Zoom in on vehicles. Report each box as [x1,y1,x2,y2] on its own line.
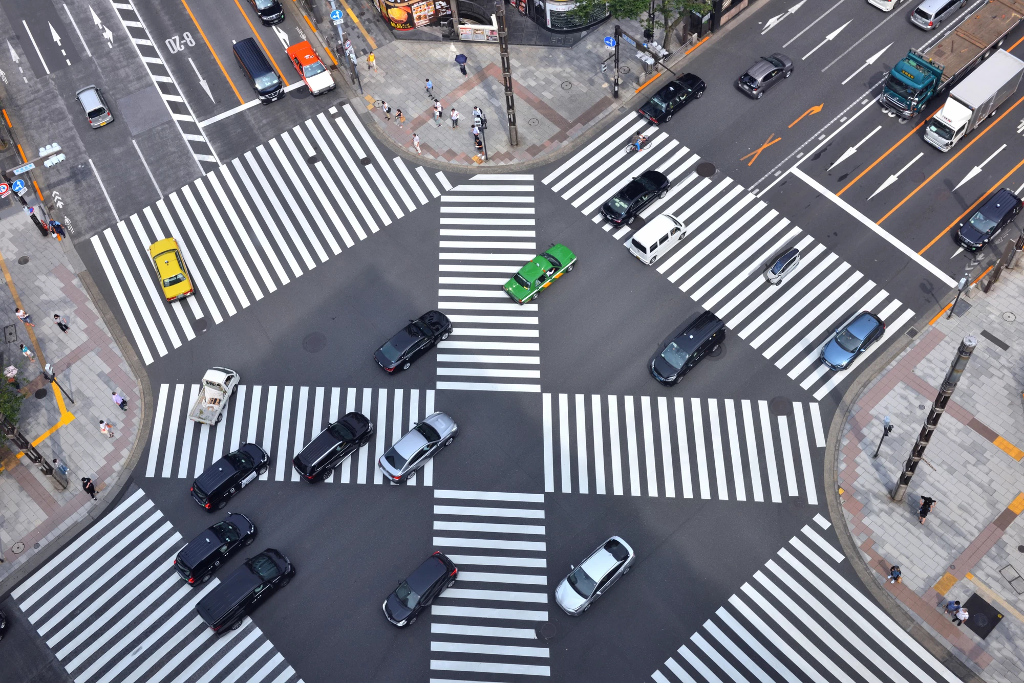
[602,172,672,229]
[243,0,283,27]
[557,536,636,617]
[75,87,113,130]
[382,551,460,630]
[631,214,686,265]
[819,307,887,372]
[198,553,293,636]
[880,0,1024,121]
[375,312,453,376]
[189,443,269,511]
[739,55,793,99]
[958,190,1022,254]
[292,414,375,487]
[173,513,255,587]
[924,48,1024,153]
[378,413,457,483]
[911,0,969,31]
[640,74,708,126]
[287,43,335,98]
[504,244,578,306]
[151,236,194,304]
[233,41,282,104]
[189,368,242,426]
[651,311,725,384]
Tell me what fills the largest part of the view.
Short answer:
paved ground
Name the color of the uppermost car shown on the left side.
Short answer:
black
